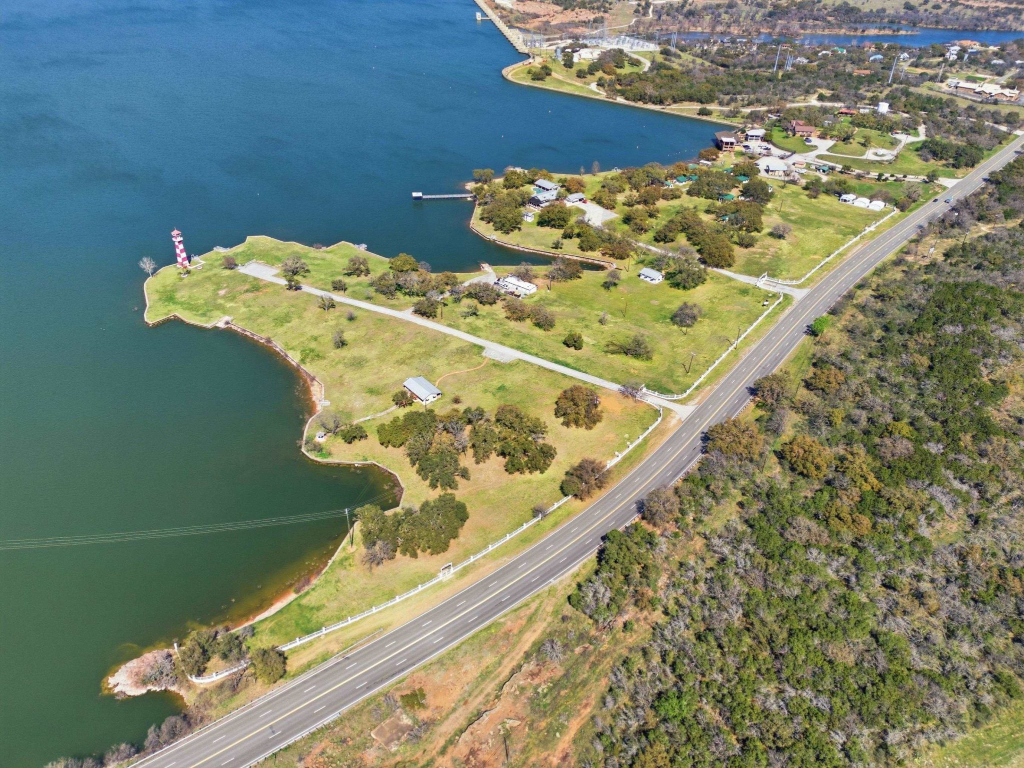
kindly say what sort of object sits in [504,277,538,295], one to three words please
shed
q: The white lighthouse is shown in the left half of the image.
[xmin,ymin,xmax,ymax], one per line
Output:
[170,229,190,268]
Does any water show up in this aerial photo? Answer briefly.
Yes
